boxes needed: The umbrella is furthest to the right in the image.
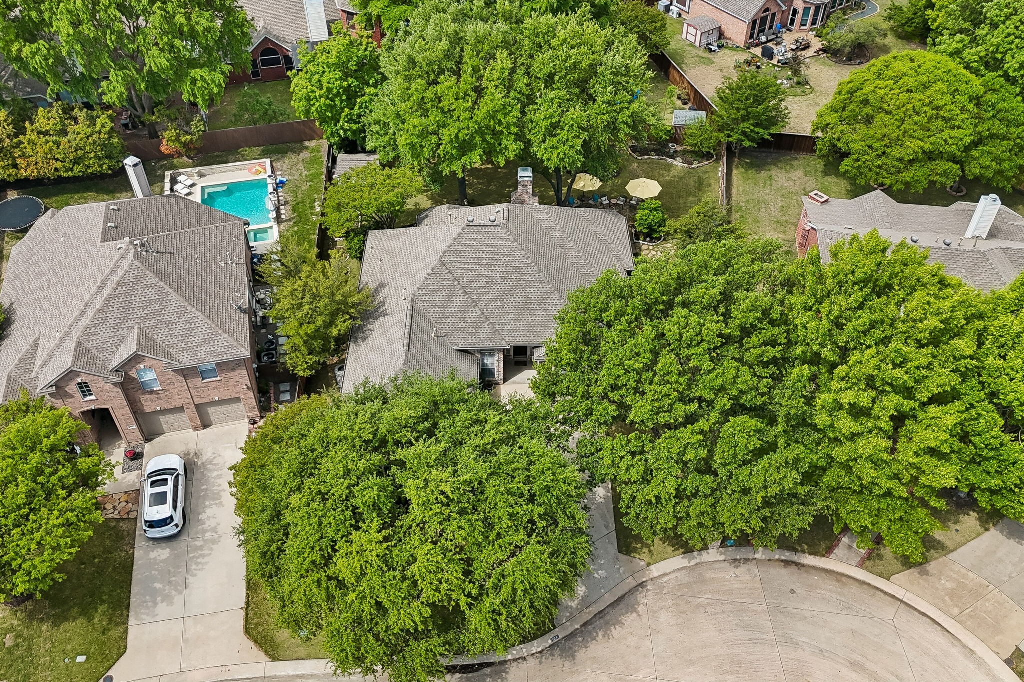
[626,180,662,202]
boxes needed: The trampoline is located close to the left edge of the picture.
[0,199,50,237]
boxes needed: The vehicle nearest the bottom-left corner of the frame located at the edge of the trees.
[138,459,189,546]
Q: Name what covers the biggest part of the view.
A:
trees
